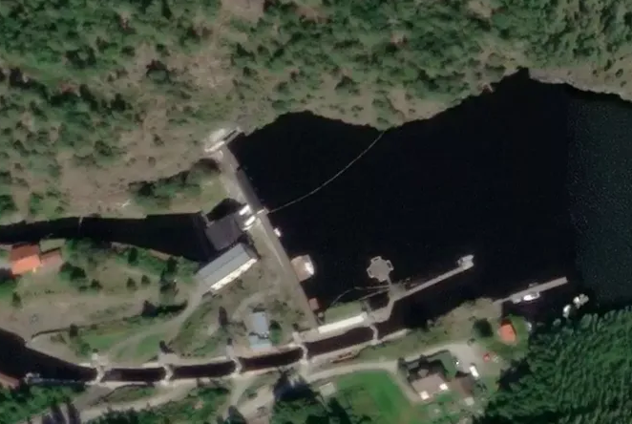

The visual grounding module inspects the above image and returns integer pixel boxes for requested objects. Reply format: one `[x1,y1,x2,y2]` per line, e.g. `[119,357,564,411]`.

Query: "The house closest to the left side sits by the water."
[9,247,43,276]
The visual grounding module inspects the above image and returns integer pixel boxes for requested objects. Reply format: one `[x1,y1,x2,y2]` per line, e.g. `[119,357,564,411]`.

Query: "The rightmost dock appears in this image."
[492,276,568,304]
